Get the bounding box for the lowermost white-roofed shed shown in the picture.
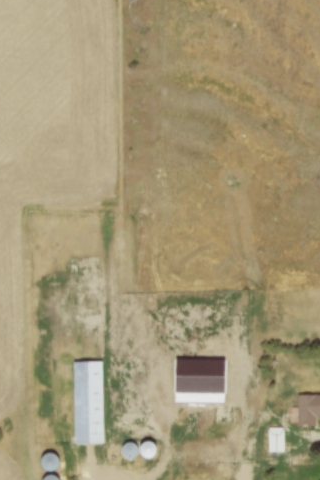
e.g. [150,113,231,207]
[268,427,284,454]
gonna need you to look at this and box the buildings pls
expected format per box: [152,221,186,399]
[73,360,104,444]
[290,394,320,428]
[268,427,284,454]
[175,358,227,406]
